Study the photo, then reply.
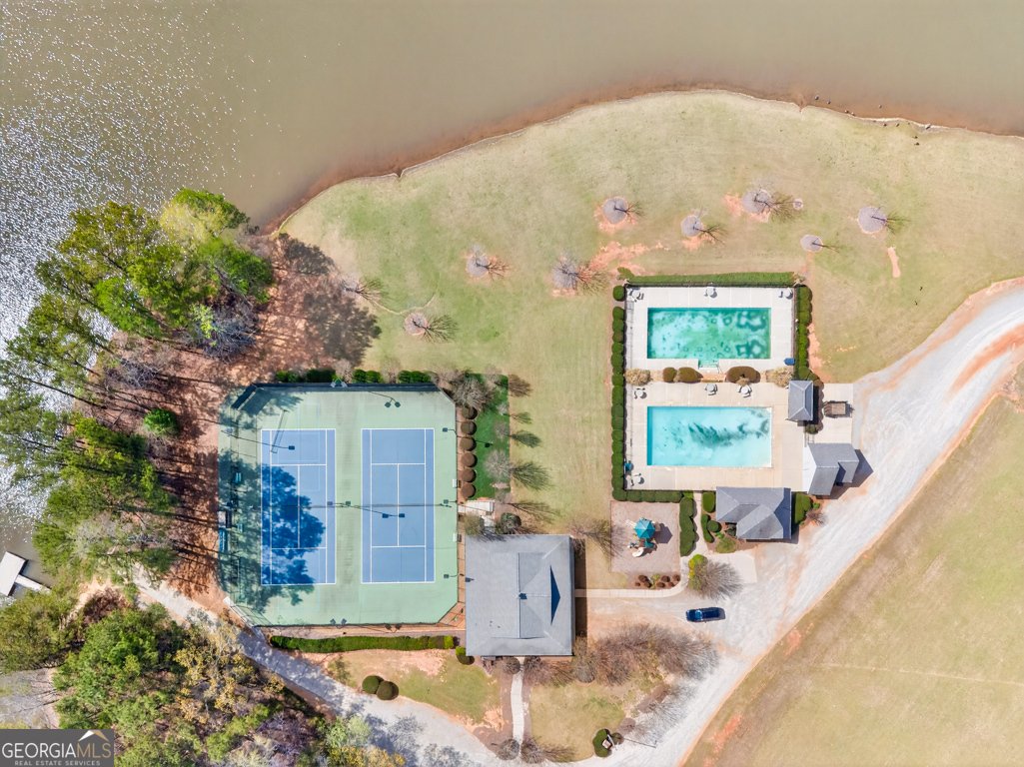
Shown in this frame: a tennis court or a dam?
tennis court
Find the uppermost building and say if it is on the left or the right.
right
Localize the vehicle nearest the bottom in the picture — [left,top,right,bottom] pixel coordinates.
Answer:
[687,608,721,624]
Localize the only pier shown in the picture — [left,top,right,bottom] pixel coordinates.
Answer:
[0,552,56,596]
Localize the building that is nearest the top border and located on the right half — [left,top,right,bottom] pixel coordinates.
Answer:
[785,380,814,421]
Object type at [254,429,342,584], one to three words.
tennis court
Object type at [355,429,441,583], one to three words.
tennis court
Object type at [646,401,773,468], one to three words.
swimming pool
